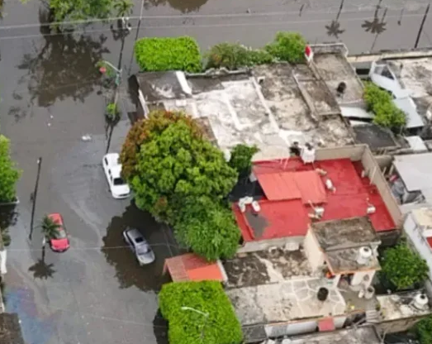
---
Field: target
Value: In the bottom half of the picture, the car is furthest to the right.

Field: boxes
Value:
[122,224,156,264]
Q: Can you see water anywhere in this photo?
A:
Yes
